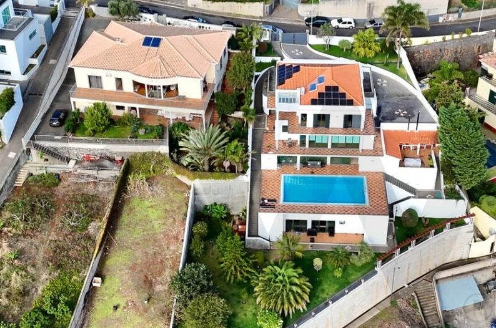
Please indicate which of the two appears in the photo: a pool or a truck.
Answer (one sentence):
I can see a pool in this picture.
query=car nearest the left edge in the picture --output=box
[50,108,66,128]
